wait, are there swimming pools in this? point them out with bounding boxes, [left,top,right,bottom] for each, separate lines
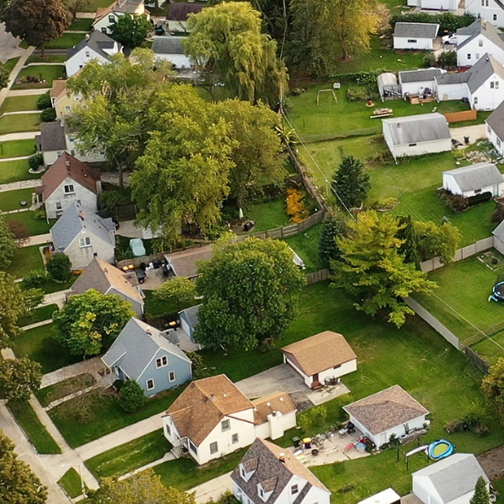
[428,438,459,459]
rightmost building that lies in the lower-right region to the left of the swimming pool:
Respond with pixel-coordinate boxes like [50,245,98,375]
[343,385,429,450]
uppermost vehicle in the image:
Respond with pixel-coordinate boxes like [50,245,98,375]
[435,31,457,46]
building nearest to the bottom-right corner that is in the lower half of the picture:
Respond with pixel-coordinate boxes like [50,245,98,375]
[411,452,491,504]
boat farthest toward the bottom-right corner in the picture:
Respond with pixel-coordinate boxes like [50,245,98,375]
[400,442,432,457]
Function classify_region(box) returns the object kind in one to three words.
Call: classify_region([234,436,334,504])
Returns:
house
